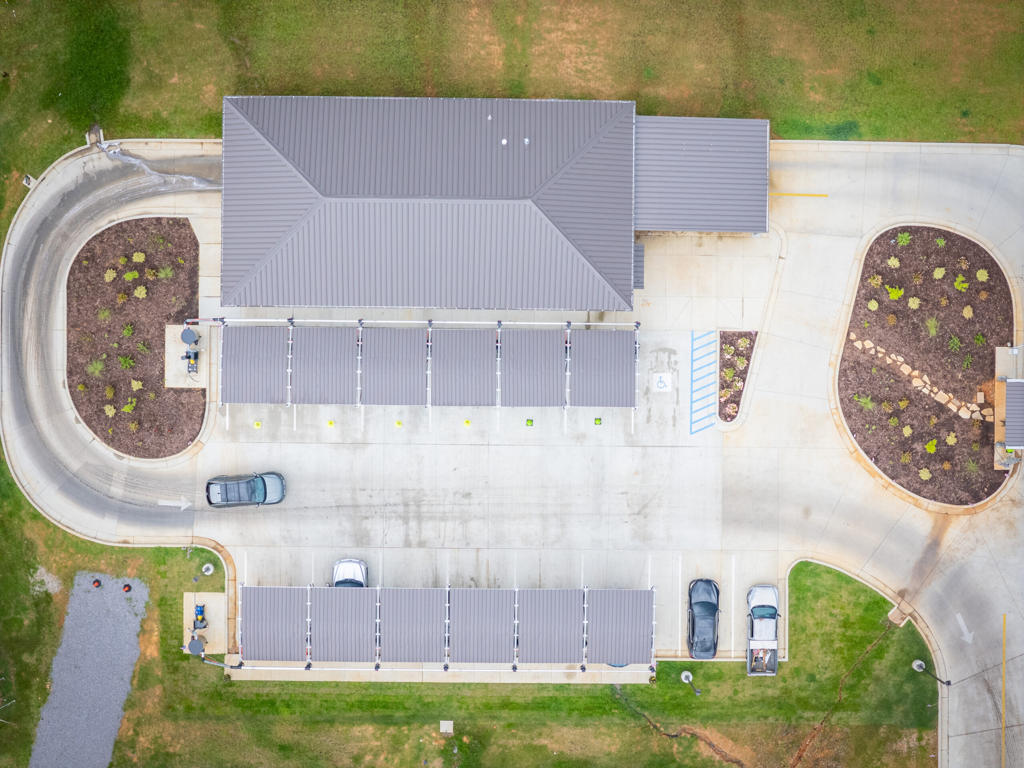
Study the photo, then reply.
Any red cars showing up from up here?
No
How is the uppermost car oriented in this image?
from left to right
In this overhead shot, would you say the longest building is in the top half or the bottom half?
top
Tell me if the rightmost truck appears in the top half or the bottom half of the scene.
bottom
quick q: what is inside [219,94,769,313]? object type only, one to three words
building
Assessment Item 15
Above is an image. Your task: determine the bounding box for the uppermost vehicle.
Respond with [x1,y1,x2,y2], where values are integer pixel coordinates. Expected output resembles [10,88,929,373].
[206,472,286,509]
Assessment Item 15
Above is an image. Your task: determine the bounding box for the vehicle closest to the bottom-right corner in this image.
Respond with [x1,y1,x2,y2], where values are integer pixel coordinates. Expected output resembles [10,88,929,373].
[744,584,782,678]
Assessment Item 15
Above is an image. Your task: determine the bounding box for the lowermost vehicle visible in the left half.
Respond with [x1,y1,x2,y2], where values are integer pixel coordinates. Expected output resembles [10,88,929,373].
[330,557,369,588]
